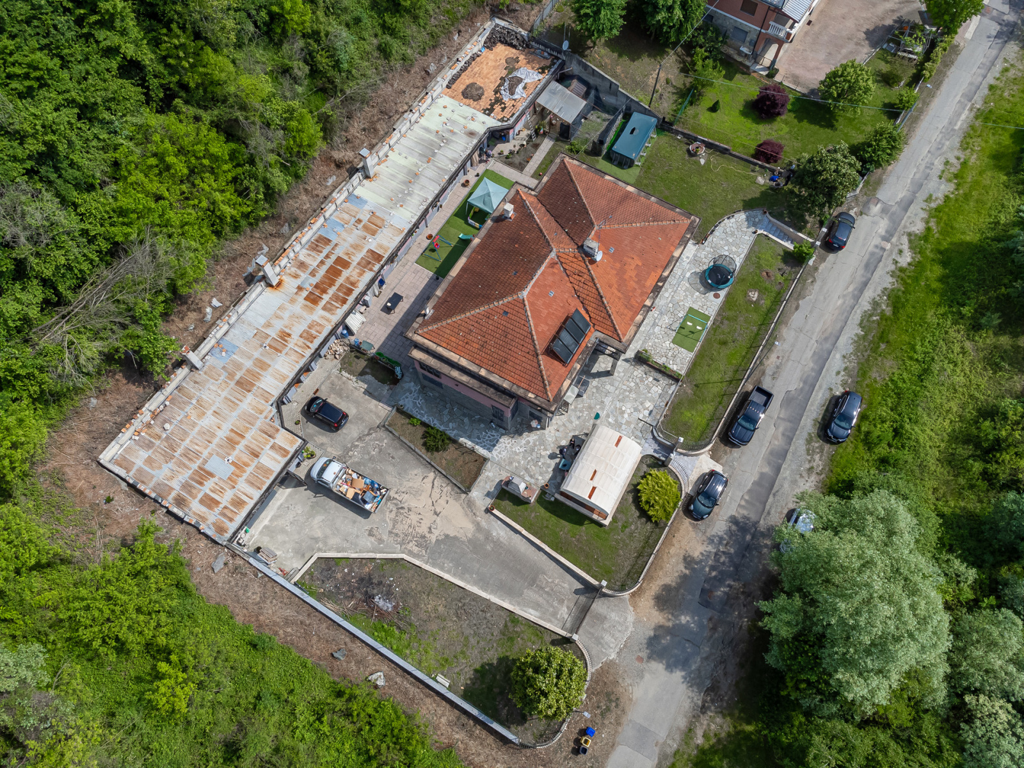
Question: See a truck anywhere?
Yes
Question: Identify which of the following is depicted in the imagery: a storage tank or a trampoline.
trampoline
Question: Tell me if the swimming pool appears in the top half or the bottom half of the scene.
top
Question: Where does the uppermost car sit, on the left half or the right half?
right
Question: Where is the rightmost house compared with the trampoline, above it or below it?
above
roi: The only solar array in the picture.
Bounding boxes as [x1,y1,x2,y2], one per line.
[541,308,592,365]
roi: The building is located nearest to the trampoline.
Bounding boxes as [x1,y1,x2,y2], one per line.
[408,152,700,432]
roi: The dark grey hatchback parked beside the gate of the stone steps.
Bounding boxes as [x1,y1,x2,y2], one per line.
[826,214,857,253]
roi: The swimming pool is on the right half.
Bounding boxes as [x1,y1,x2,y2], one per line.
[611,112,657,167]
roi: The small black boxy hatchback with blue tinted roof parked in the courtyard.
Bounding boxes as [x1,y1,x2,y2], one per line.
[306,399,349,430]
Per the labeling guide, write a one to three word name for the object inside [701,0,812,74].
house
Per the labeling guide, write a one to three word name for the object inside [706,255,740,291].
trampoline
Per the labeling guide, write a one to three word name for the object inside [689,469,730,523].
car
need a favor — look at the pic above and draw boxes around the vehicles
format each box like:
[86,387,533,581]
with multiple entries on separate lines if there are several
[306,399,349,430]
[689,469,730,523]
[728,384,777,449]
[826,390,865,444]
[310,456,390,514]
[826,214,857,253]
